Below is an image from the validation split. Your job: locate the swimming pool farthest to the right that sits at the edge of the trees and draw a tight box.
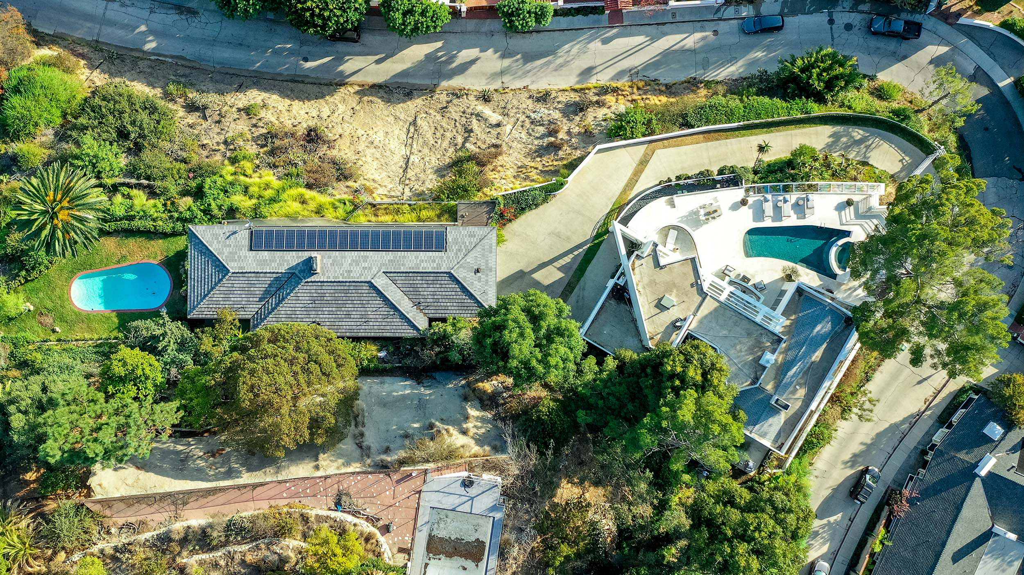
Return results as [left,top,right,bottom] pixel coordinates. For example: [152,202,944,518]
[743,221,866,279]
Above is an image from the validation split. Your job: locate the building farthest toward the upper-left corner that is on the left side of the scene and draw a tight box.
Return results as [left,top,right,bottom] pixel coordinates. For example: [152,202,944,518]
[187,222,498,338]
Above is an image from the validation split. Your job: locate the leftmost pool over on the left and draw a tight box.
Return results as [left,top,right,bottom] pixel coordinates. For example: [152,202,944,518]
[68,260,173,313]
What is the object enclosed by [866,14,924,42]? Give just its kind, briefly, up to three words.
truck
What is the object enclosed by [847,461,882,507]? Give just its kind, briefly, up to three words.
car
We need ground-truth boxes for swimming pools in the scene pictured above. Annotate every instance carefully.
[68,260,173,313]
[743,221,866,279]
